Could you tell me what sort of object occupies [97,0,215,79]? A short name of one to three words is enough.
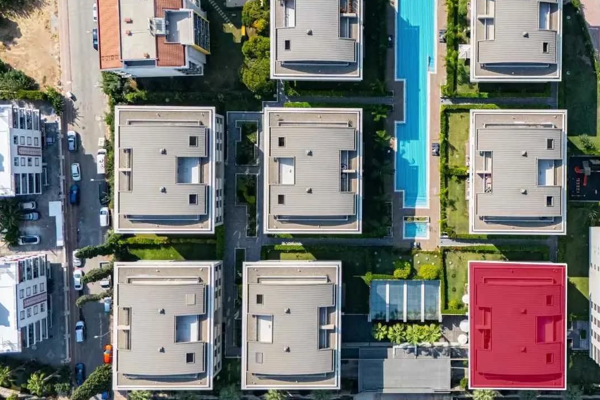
building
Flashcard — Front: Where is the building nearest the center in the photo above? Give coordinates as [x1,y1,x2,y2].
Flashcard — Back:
[264,108,365,235]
